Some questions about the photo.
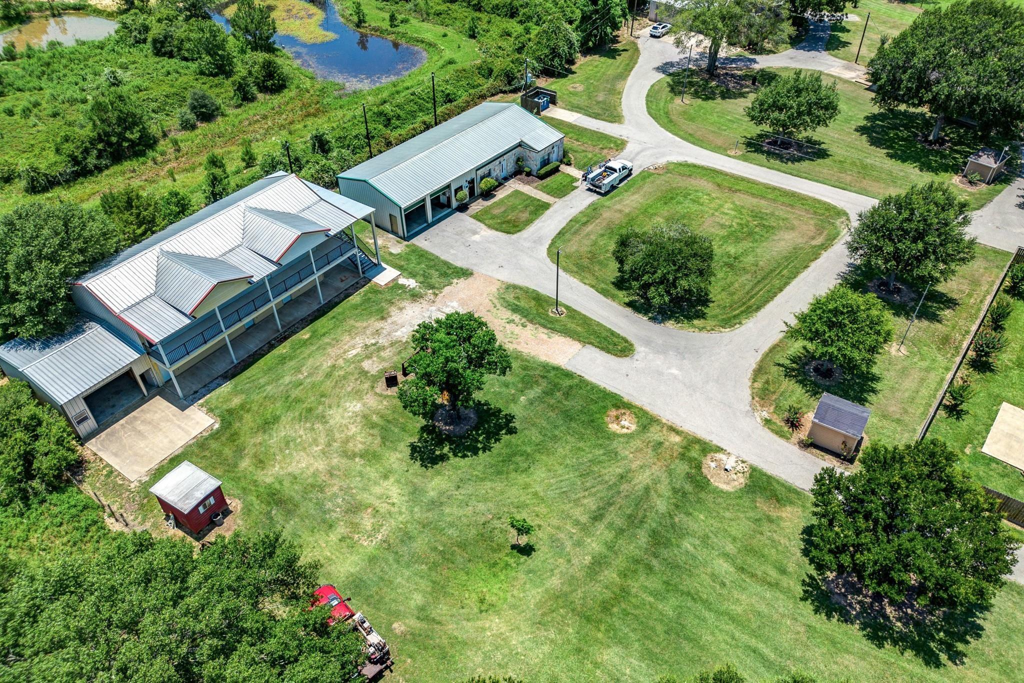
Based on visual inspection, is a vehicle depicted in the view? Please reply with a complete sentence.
Yes, a vehicle is visible in the scene.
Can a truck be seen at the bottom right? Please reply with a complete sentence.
No, no truck can be made out at the bottom right.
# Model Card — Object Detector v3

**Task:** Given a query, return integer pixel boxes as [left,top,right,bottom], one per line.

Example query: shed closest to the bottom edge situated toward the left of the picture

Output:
[151,462,229,534]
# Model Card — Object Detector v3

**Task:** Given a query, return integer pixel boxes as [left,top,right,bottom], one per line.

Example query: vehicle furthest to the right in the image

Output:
[652,23,672,37]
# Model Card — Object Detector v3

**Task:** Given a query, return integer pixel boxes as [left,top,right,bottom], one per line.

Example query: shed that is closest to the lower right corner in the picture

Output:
[809,394,874,453]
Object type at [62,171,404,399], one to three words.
house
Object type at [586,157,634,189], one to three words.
truck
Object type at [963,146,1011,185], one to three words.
shed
